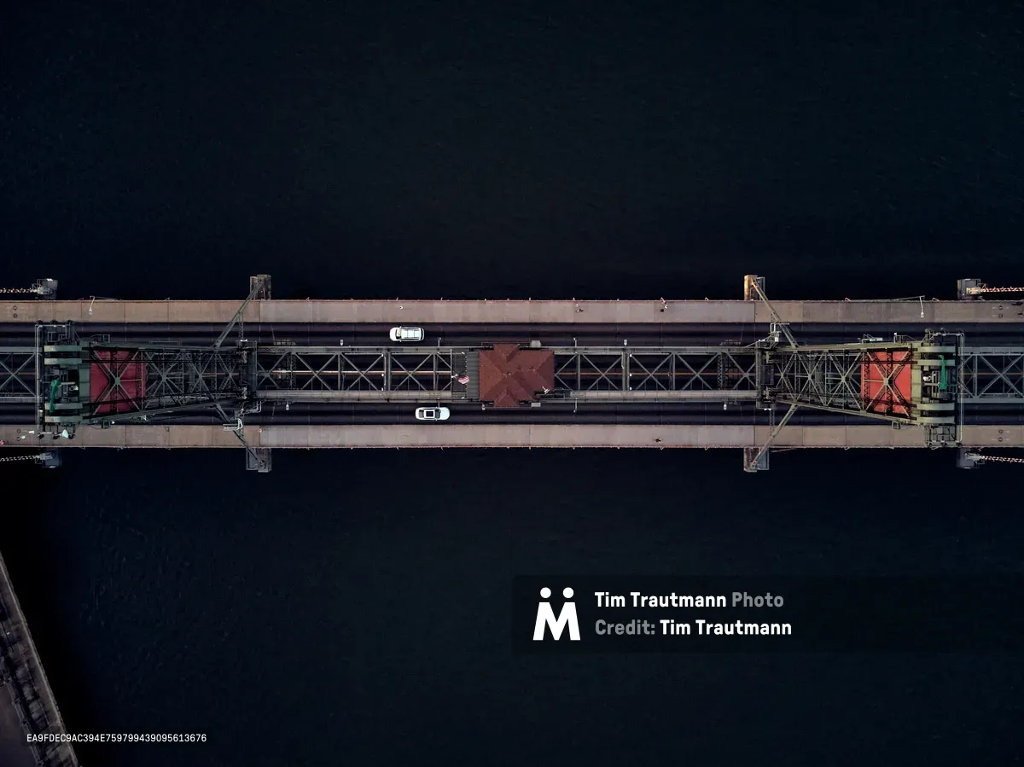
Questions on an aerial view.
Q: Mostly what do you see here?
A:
water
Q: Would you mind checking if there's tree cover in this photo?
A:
No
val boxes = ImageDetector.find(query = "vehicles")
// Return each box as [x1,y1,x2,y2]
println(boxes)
[416,407,449,421]
[389,326,424,342]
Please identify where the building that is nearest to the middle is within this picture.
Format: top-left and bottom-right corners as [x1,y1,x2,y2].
[451,341,564,408]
